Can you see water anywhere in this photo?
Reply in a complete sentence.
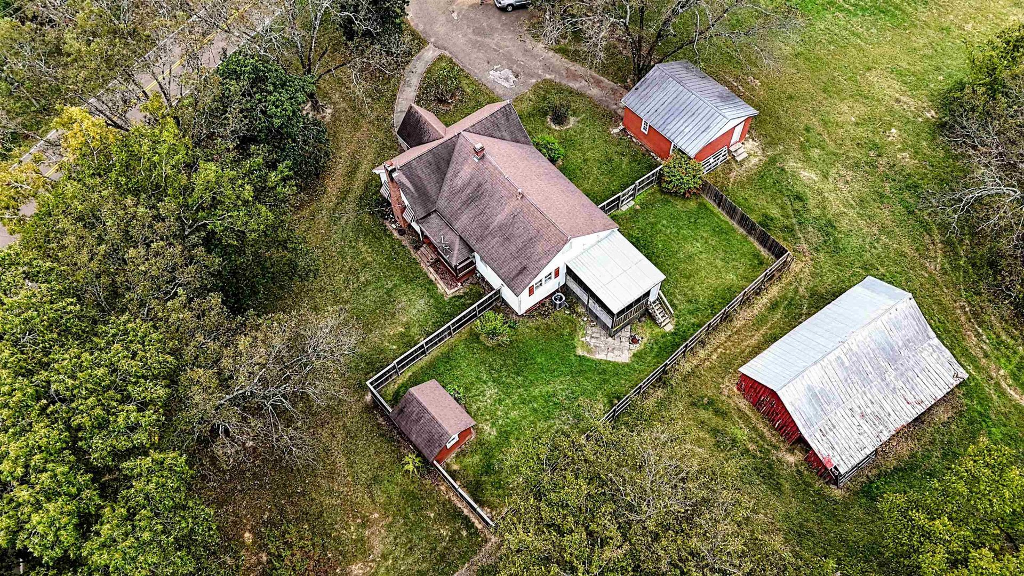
No, no water is visible.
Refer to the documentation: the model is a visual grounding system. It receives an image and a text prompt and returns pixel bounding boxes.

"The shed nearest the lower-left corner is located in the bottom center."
[391,381,475,462]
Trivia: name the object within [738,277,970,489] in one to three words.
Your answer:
barn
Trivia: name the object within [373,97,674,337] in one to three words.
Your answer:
house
